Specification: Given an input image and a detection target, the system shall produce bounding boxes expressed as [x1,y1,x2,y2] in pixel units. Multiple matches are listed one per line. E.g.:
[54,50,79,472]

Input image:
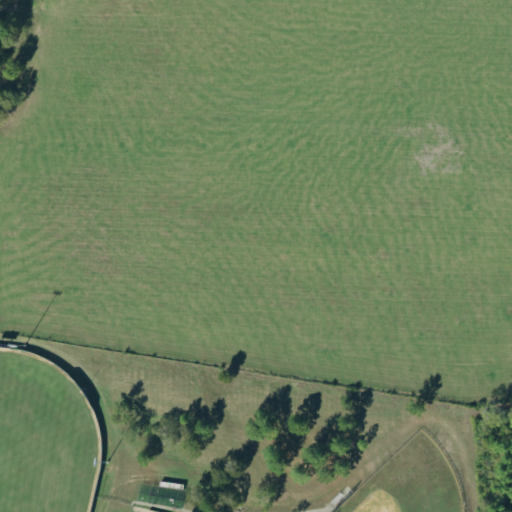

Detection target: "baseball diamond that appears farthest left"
[0,348,102,512]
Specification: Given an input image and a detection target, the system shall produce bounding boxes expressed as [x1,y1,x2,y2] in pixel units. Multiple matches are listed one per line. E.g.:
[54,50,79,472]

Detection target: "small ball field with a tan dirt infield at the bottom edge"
[332,430,464,512]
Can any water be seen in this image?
No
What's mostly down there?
grass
